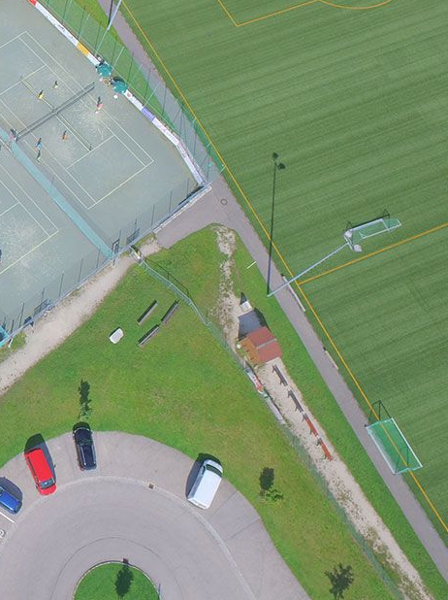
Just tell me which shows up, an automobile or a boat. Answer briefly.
automobile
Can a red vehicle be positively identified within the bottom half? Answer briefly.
Yes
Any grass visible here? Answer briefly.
Yes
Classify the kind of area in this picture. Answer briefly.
sports ground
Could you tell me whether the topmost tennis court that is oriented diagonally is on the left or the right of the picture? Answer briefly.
left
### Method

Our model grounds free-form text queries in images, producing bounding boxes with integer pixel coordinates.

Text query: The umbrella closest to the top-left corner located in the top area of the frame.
[96,64,111,81]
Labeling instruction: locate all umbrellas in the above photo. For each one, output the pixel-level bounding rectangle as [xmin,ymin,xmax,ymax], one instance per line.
[96,64,111,81]
[111,79,128,96]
